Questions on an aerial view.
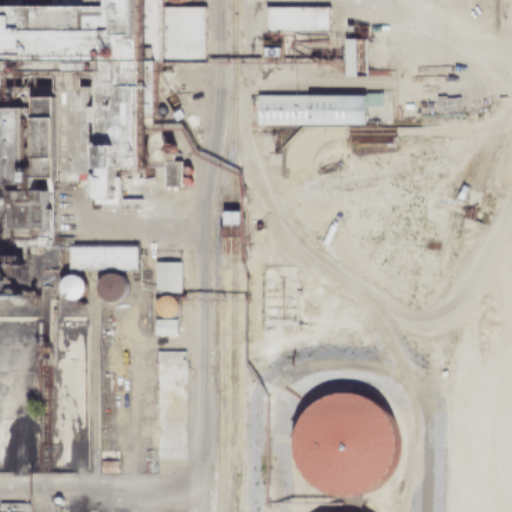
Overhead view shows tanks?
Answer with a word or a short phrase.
Yes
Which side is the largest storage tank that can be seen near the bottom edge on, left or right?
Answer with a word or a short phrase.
right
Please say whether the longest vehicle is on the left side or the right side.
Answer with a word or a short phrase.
right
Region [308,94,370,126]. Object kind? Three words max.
building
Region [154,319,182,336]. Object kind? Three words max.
shed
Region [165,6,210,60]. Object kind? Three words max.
building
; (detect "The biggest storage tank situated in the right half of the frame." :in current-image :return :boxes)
[292,392,402,496]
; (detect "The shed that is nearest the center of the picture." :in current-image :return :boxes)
[222,211,242,227]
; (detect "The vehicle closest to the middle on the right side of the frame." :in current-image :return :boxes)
[323,214,343,246]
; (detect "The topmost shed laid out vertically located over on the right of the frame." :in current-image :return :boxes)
[346,39,360,78]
